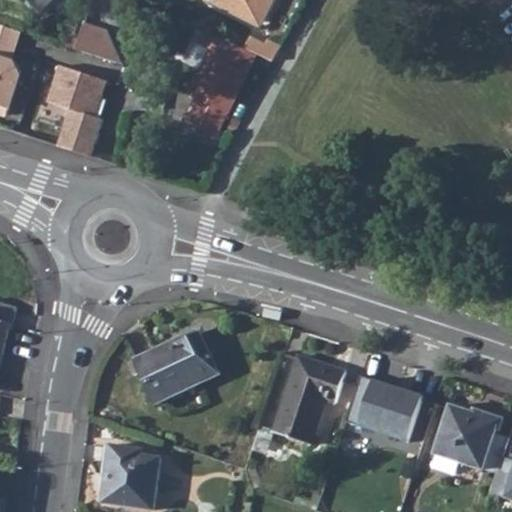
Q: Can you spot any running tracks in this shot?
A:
No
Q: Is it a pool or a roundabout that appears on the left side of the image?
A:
roundabout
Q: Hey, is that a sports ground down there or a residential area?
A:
residential area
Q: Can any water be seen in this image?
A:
No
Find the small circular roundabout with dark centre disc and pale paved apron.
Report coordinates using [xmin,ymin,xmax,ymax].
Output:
[55,185,167,289]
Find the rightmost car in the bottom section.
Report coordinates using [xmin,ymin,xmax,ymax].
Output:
[462,337,482,350]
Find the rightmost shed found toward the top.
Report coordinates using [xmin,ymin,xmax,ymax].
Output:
[246,36,281,62]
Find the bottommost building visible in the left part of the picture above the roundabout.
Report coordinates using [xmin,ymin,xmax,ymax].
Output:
[56,108,102,155]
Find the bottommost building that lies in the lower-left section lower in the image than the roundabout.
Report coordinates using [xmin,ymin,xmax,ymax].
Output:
[98,444,162,509]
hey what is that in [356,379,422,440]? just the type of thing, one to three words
house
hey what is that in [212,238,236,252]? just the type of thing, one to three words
vehicle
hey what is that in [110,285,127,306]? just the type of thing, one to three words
car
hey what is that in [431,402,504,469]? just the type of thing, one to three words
house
